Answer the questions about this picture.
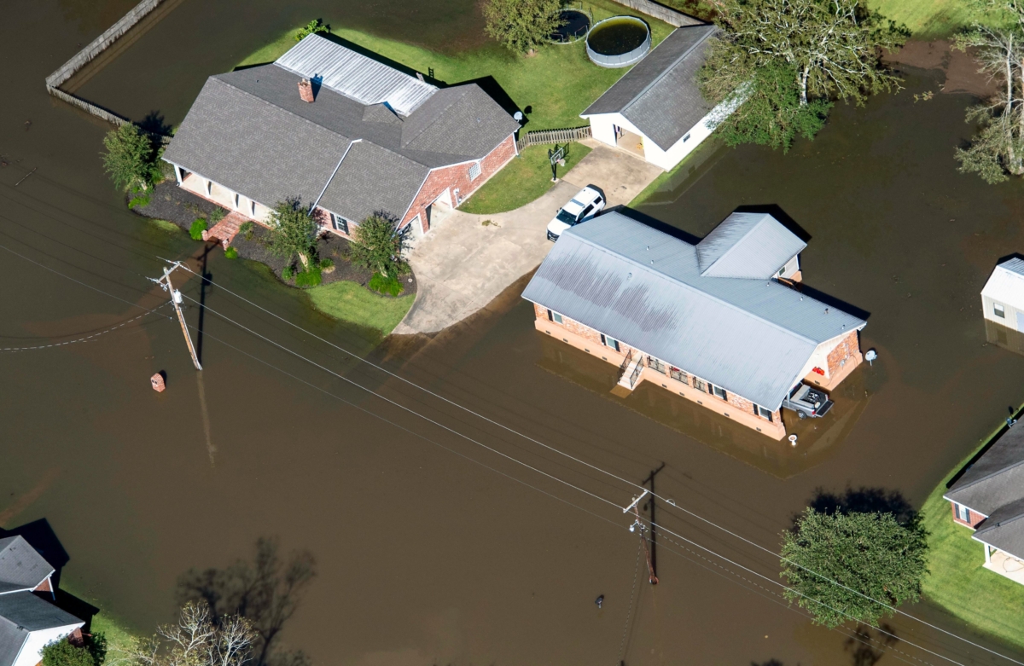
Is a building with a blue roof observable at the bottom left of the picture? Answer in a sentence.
No, no building with a blue roof can be made out at the bottom left of the picture.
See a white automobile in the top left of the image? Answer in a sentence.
No, no white automobile appears in the top left of the image.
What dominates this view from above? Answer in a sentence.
Most of the picture is covered by water.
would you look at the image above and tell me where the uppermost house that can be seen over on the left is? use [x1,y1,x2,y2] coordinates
[160,34,523,262]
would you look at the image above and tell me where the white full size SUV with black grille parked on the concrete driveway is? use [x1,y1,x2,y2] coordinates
[545,185,614,242]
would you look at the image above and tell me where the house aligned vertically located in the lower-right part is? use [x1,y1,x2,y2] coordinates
[943,415,1024,587]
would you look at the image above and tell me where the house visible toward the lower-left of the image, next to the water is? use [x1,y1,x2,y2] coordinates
[0,534,92,666]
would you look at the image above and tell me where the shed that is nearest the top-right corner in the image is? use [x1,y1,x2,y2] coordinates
[981,258,1024,335]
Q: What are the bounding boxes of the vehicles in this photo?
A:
[545,185,614,242]
[783,382,834,420]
